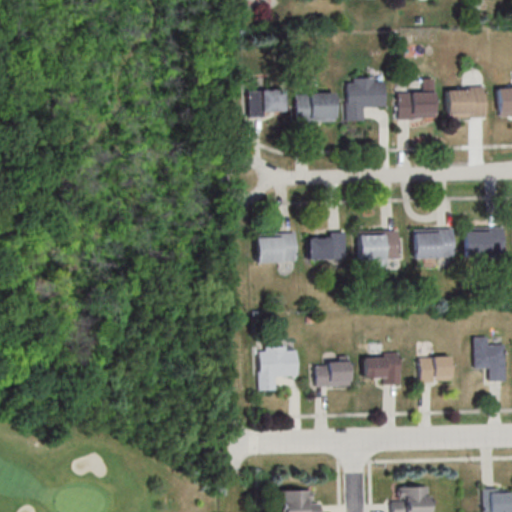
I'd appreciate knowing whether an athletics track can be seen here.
No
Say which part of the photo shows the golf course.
bottom left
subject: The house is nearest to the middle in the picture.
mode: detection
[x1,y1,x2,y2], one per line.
[259,232,299,264]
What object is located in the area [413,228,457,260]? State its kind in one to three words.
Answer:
house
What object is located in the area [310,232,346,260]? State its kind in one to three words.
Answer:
house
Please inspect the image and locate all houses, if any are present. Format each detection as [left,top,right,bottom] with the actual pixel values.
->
[473,337,506,380]
[258,346,300,391]
[310,232,346,260]
[413,228,457,260]
[248,90,288,116]
[419,356,455,382]
[296,94,340,124]
[282,491,322,512]
[466,227,506,258]
[315,356,355,388]
[259,232,299,264]
[449,87,490,120]
[500,88,512,120]
[390,487,438,512]
[358,231,402,266]
[346,76,388,121]
[482,489,512,512]
[397,79,440,120]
